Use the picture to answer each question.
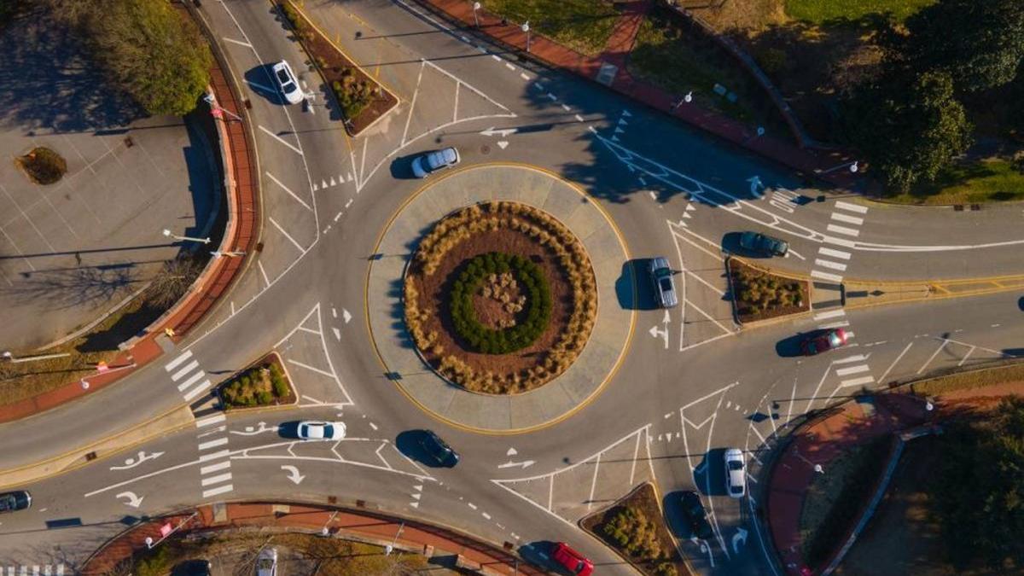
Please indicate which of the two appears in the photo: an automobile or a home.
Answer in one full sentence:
The one in the frame is an automobile.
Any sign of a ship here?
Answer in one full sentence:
No, there appears to be no ship in this shot.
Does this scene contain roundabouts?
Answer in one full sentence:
Yes, there is a roundabout in the image.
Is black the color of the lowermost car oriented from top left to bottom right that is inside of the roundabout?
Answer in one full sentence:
Yes, the lowermost car oriented from top left to bottom right that is inside of the roundabout is indeed black.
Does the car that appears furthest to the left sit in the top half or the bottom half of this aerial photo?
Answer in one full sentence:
The bottom half of the photo is where the car that appears furthest to the left is.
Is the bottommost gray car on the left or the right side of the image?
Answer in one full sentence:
The bottommost gray car is on the left side of the image.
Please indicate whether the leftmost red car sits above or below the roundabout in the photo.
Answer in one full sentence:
Looking at the photo, you'll find the leftmost red car below the roundabout.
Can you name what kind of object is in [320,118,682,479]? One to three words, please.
roundabout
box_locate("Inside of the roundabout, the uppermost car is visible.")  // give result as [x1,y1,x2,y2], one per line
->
[410,146,463,178]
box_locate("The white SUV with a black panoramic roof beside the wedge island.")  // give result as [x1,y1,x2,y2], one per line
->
[270,57,307,108]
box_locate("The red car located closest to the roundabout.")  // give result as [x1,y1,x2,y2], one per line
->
[549,537,595,576]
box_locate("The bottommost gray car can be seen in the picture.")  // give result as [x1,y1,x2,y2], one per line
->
[254,547,278,576]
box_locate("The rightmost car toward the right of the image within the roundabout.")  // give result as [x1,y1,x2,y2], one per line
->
[648,256,680,310]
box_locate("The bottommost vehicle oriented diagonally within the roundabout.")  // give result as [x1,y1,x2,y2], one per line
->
[416,426,462,469]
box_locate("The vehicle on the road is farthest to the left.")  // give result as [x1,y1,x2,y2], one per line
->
[0,487,38,512]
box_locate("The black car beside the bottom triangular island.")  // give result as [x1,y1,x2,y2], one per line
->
[679,490,713,541]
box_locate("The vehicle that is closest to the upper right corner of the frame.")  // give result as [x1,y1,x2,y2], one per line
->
[738,232,790,259]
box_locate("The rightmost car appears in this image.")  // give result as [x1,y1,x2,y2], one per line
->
[798,325,848,356]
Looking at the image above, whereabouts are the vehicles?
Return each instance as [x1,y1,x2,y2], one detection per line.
[721,447,747,498]
[410,146,463,178]
[0,487,38,512]
[648,256,680,310]
[297,419,347,441]
[798,325,848,356]
[549,537,595,576]
[738,232,790,259]
[416,426,462,469]
[270,57,307,108]
[254,547,278,576]
[679,490,713,541]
